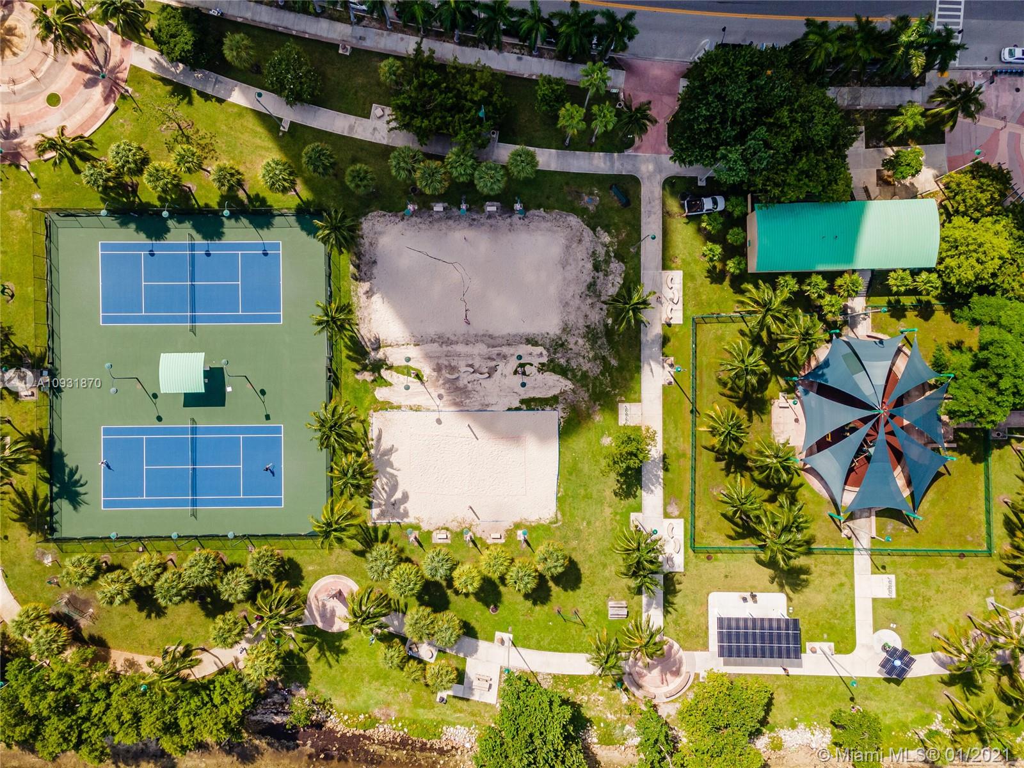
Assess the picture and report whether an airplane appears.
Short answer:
No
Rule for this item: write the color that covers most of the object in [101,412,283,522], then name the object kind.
blue tennis court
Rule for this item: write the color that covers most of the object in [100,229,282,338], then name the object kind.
blue tennis court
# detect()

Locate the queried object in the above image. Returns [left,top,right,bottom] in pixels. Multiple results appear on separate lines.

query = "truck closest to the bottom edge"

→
[684,193,727,214]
